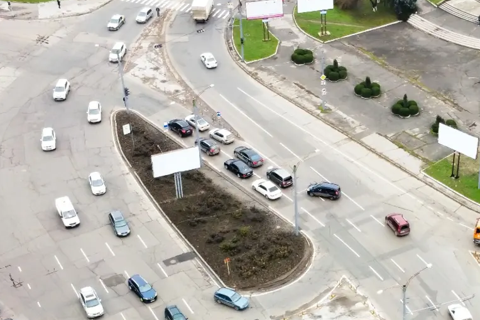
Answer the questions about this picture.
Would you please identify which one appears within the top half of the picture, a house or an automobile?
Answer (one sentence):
It is an automobile that can be seen within the top half of the picture.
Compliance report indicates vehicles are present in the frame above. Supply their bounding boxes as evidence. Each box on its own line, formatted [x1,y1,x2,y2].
[81,288,104,318]
[129,274,154,303]
[89,172,105,195]
[87,103,102,122]
[172,120,194,137]
[109,211,130,237]
[385,213,410,237]
[56,194,78,225]
[235,148,263,167]
[212,286,253,311]
[198,139,222,156]
[201,54,217,70]
[265,168,294,189]
[109,41,125,60]
[192,0,211,21]
[54,77,70,98]
[449,303,472,320]
[224,160,253,179]
[135,4,154,23]
[210,128,235,145]
[307,181,342,199]
[107,14,125,30]
[166,305,189,320]
[252,180,281,200]
[40,129,55,149]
